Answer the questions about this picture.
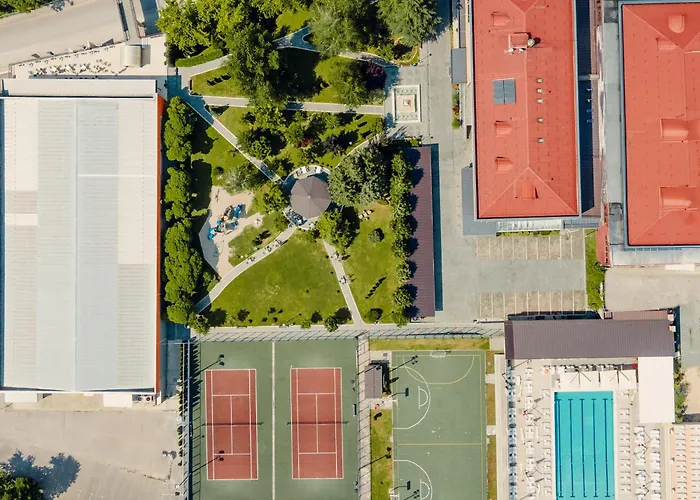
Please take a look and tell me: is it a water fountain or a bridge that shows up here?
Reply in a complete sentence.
This aerial view contains a water fountain.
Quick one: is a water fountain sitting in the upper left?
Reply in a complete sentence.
No, I see no water fountain in the upper left.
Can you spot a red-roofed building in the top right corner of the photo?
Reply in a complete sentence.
Yes, a red-roofed building appears in the top right corner of the photo.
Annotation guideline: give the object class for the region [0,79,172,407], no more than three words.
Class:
building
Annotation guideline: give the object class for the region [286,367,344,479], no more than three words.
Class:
tennis court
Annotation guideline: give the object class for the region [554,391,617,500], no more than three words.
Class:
swimming pool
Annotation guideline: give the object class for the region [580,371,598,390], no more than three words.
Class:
umbrella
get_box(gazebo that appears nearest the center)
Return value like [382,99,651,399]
[289,176,331,219]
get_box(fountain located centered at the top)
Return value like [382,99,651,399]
[394,83,421,122]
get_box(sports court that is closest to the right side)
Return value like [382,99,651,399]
[392,351,488,500]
